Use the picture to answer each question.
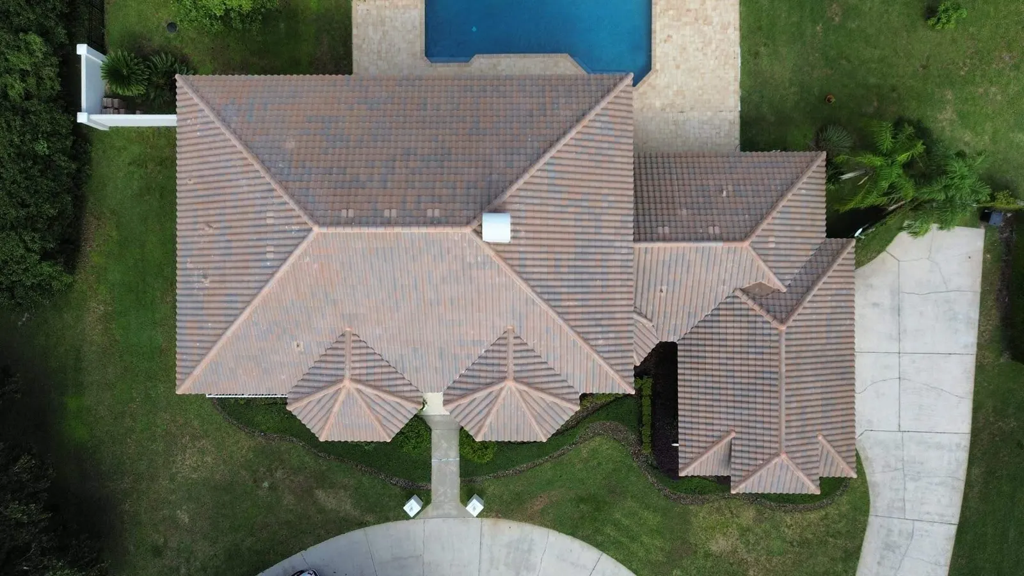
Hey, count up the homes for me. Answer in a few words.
1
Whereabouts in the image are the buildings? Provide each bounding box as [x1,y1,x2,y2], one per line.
[173,73,858,495]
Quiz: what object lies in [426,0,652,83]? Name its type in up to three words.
swimming pool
